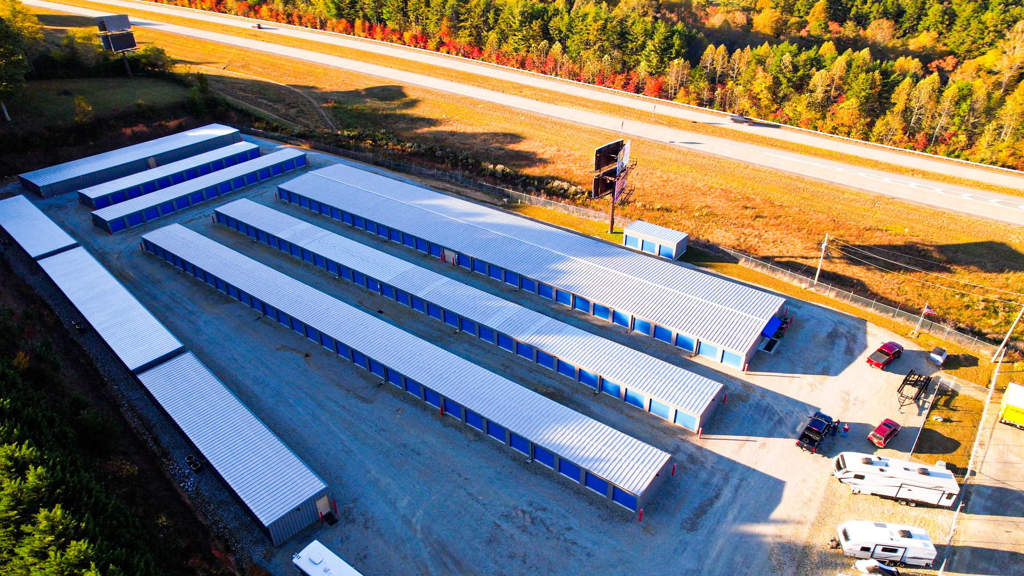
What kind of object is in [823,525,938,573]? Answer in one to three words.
vehicle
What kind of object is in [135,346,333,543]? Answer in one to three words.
building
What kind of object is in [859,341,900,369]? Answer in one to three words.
truck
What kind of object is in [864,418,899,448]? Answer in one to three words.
car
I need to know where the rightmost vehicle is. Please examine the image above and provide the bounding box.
[996,383,1024,430]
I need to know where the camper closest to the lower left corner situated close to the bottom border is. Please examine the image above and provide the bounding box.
[292,539,358,576]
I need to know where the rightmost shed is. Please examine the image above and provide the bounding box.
[924,345,948,366]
